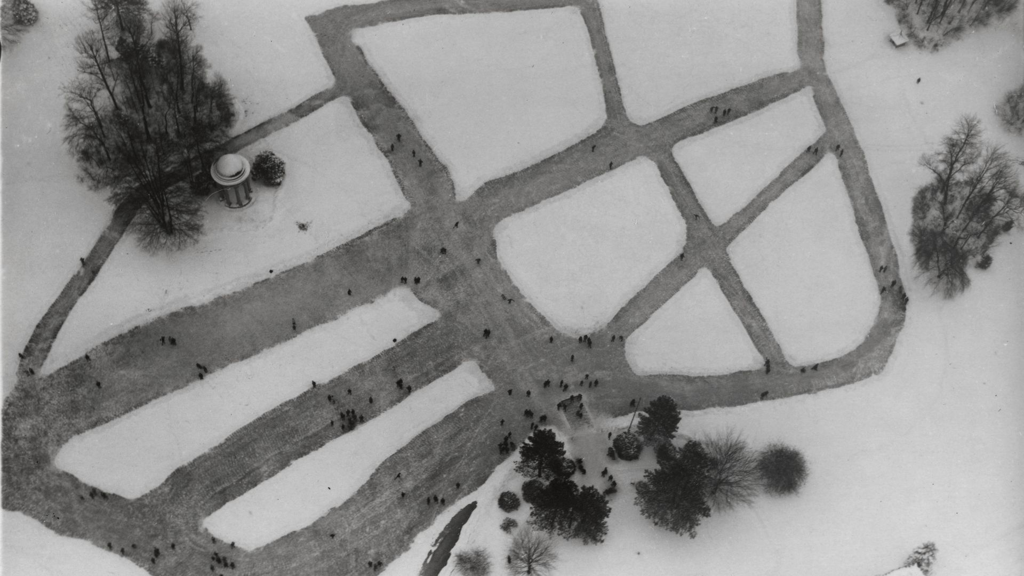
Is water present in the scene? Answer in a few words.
Yes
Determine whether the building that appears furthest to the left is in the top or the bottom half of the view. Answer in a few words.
top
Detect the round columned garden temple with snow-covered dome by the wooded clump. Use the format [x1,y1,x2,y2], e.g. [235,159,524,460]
[208,154,255,210]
